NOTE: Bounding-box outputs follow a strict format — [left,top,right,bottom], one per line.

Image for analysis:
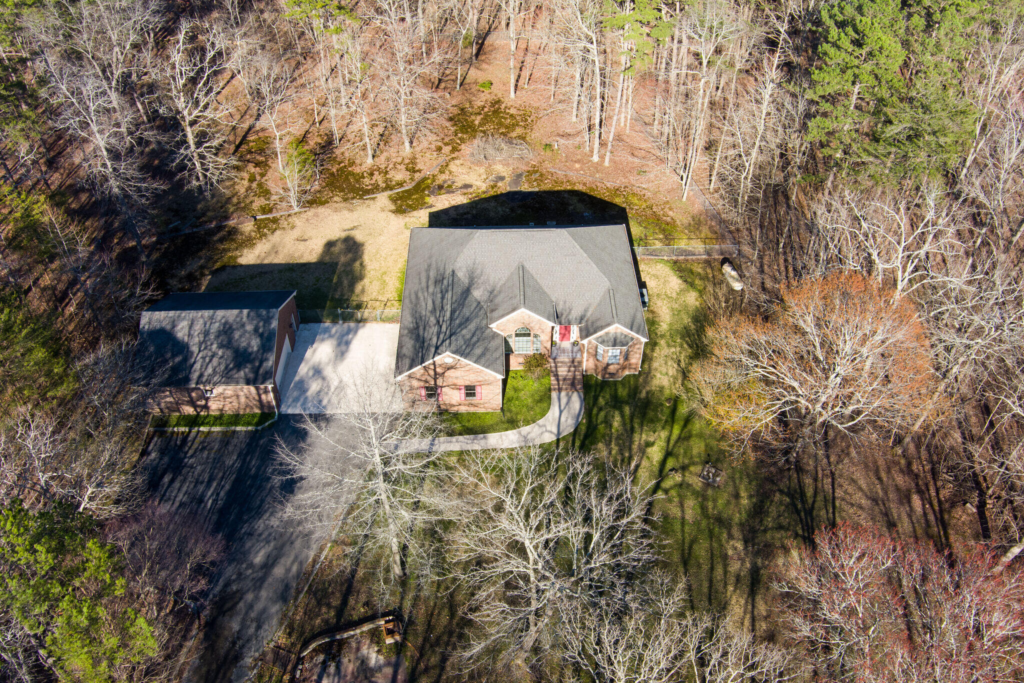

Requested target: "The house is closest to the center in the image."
[395,222,649,420]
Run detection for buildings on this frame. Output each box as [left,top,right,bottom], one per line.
[132,290,299,416]
[395,222,649,420]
